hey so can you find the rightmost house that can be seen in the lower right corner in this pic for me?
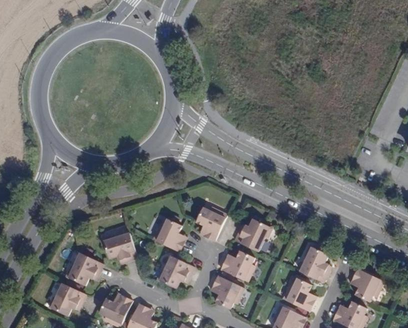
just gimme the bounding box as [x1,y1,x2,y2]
[352,269,384,303]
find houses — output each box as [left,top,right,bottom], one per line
[352,269,384,303]
[70,252,104,284]
[197,207,229,239]
[104,232,136,261]
[157,219,188,248]
[160,256,192,287]
[239,220,270,250]
[333,301,369,328]
[286,278,317,310]
[52,283,86,313]
[211,276,244,308]
[128,303,160,328]
[99,291,130,324]
[300,248,332,282]
[222,251,258,281]
[274,306,308,328]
